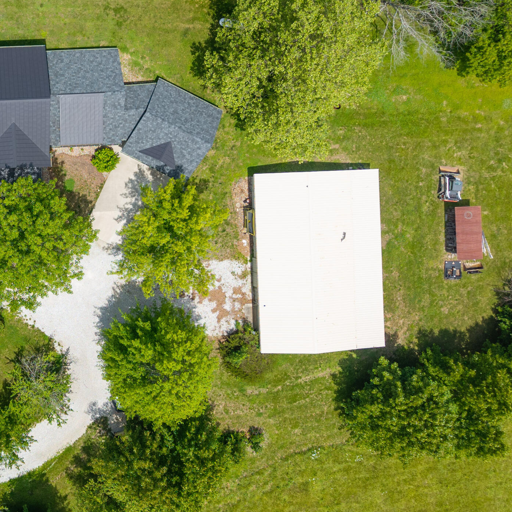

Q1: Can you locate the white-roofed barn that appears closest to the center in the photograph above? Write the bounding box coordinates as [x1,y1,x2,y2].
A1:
[246,169,386,355]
